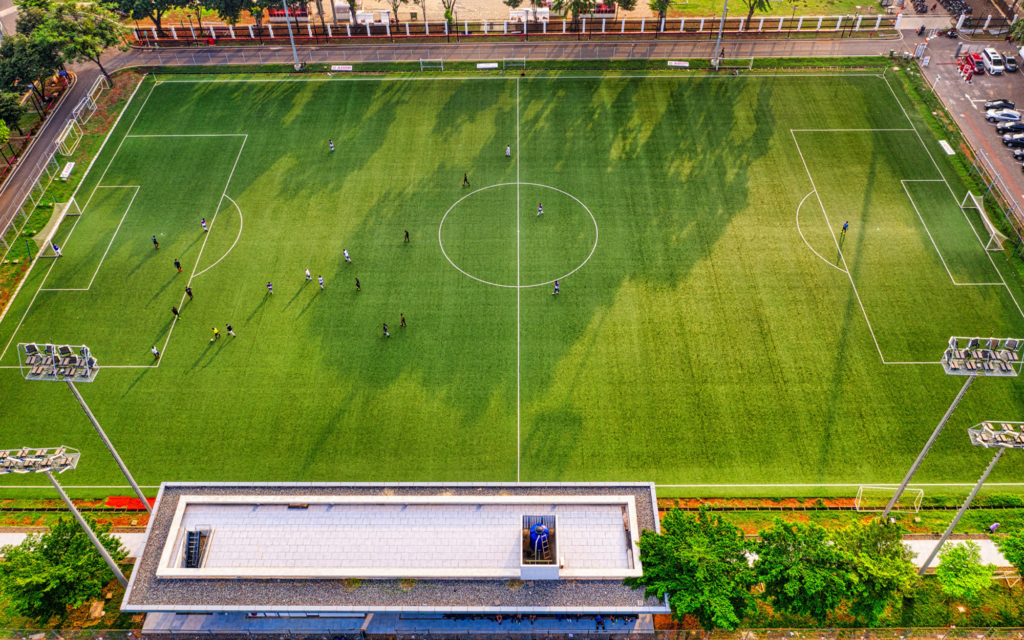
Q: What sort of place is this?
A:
sports ground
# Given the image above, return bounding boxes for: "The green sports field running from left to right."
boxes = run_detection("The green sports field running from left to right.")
[0,70,1024,499]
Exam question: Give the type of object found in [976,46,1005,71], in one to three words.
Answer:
car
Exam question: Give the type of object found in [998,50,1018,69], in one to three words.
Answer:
car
